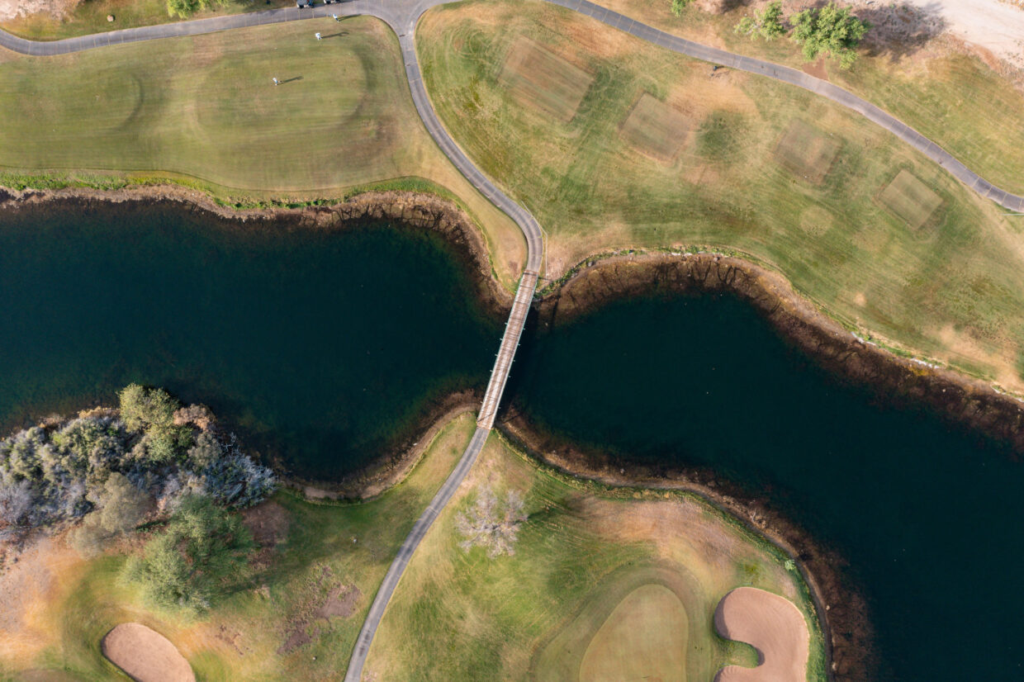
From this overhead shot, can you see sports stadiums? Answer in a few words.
No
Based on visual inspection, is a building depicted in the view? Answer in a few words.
No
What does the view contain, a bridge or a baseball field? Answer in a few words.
bridge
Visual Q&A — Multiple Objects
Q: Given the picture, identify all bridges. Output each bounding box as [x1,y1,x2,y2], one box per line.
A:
[476,269,540,432]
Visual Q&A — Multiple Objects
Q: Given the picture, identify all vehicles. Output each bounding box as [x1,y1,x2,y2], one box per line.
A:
[295,0,311,10]
[324,0,339,5]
